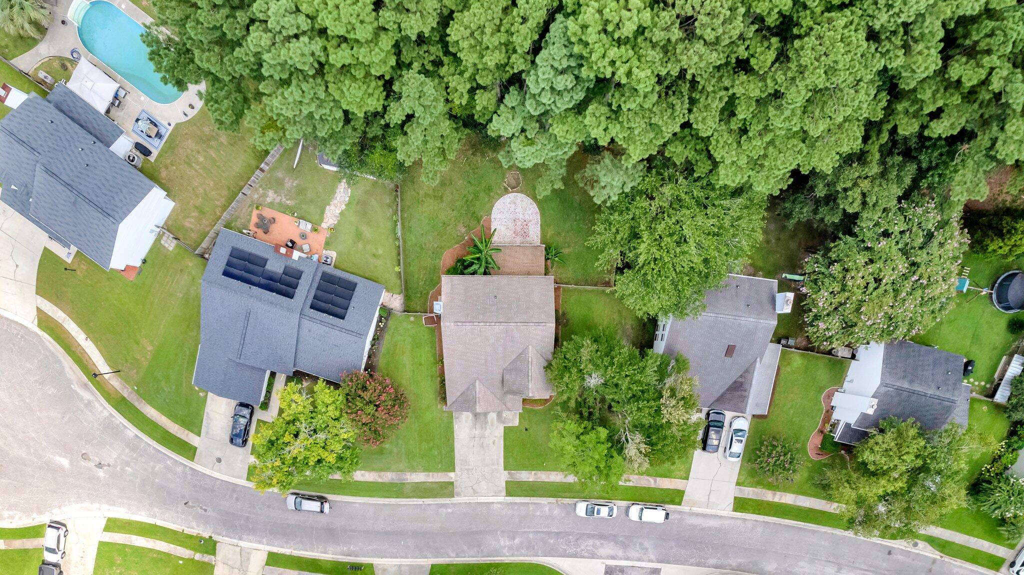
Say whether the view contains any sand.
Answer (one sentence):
No, the picture contains no sand.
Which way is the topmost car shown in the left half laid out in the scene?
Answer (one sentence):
The topmost car shown in the left half is laid out from top to bottom.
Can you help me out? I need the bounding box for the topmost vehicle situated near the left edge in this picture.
[43,519,70,561]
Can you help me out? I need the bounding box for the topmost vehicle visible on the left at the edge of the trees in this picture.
[231,402,254,447]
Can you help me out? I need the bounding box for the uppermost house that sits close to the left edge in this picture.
[0,82,177,280]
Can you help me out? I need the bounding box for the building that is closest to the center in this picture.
[433,244,555,412]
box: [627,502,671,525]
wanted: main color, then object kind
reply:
white car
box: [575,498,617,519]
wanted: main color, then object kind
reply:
white car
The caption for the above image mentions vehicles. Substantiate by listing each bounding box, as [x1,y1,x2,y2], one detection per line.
[285,492,331,514]
[43,519,70,561]
[575,498,617,519]
[231,402,254,447]
[703,409,728,454]
[627,502,671,525]
[725,415,750,461]
[40,563,65,575]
